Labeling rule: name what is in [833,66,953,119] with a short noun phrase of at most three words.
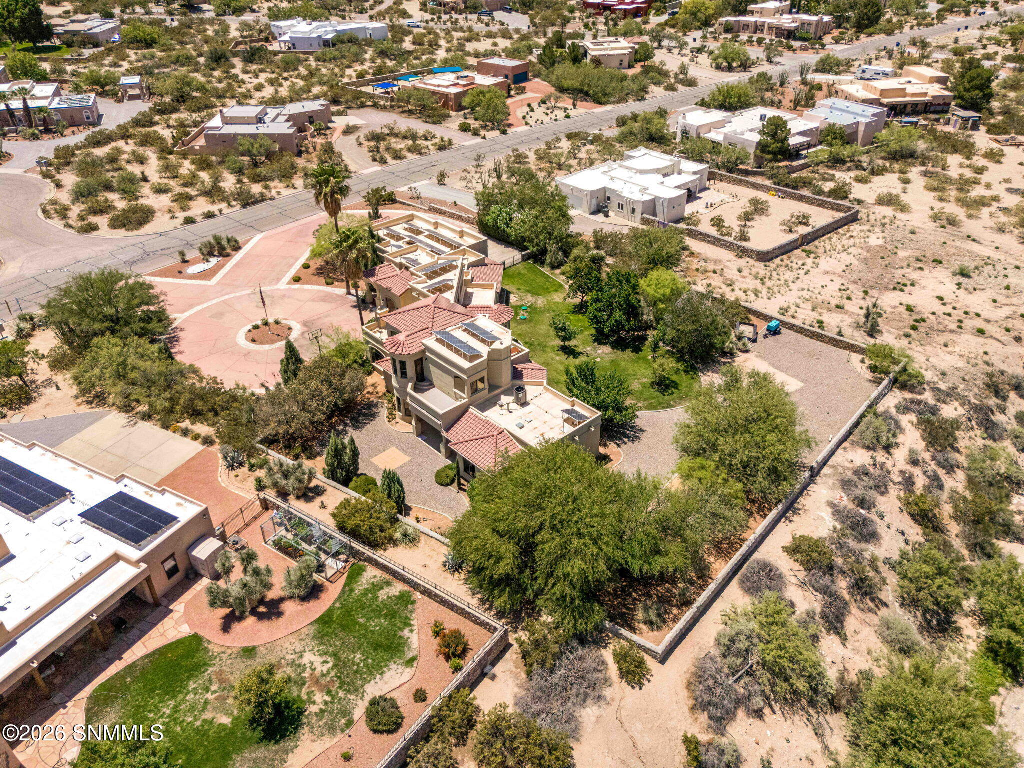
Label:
house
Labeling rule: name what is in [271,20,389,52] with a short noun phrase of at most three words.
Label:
house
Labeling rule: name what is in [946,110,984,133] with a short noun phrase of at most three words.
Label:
building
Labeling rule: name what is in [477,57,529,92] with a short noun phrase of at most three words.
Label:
building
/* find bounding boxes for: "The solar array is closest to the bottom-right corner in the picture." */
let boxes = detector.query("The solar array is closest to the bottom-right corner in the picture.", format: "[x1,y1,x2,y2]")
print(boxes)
[561,409,590,436]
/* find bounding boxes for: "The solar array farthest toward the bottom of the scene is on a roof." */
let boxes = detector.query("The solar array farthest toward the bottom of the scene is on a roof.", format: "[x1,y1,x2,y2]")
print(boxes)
[79,492,178,551]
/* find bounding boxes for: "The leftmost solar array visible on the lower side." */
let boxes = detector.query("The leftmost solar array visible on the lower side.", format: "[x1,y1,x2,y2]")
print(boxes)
[0,457,72,519]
